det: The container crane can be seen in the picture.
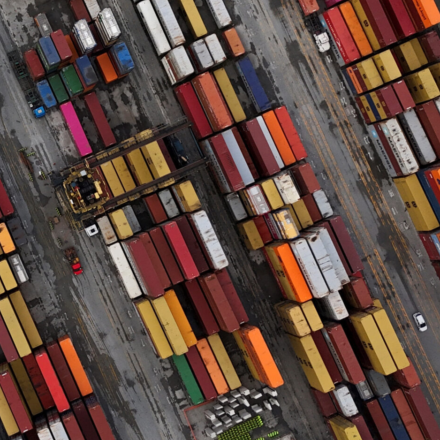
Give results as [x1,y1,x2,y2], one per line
[43,115,209,226]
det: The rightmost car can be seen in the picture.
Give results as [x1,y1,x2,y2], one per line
[413,312,427,332]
